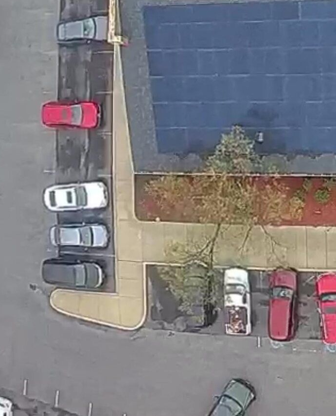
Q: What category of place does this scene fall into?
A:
parking lot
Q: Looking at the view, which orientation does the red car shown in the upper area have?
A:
from left to right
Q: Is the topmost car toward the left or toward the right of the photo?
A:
left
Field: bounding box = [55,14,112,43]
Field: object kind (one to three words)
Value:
car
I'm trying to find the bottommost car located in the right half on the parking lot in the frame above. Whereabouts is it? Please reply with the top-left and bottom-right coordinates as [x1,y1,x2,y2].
[208,373,255,416]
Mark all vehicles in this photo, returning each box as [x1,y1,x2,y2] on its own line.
[48,222,110,252]
[315,272,336,347]
[42,181,109,213]
[181,263,215,331]
[221,267,255,338]
[39,259,108,291]
[39,100,105,130]
[0,396,21,416]
[208,373,255,416]
[55,14,112,43]
[265,268,301,343]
